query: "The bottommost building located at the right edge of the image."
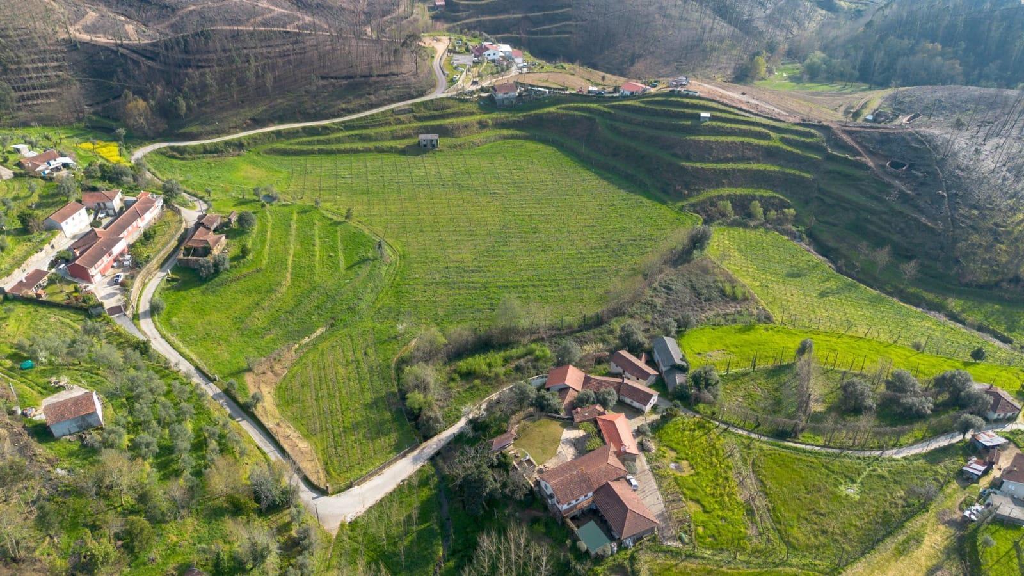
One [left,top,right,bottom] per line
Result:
[990,485,1024,538]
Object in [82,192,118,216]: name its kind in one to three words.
house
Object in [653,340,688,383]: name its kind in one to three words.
barn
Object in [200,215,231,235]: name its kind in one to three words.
barn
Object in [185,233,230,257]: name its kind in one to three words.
house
